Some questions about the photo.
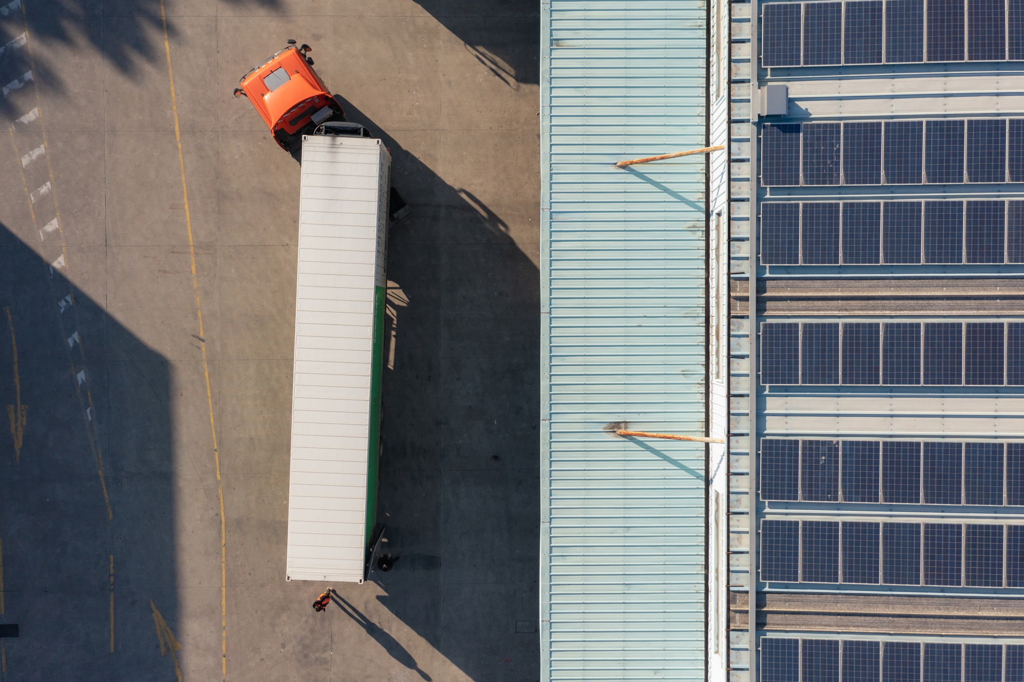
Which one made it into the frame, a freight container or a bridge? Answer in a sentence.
The one in the frame is a freight container.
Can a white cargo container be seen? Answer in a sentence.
Yes, I can see a white cargo container in this picture.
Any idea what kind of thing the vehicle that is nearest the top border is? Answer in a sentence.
In the photo, the vehicle that is nearest the top border shows up as a truck.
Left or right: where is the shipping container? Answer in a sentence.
You can find the shipping container on the left side of the picture.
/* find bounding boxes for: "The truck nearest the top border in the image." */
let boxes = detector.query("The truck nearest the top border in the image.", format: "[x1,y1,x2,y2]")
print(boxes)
[231,33,353,164]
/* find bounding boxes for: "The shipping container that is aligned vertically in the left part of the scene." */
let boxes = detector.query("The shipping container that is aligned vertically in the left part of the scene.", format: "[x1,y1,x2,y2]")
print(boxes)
[285,136,392,584]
